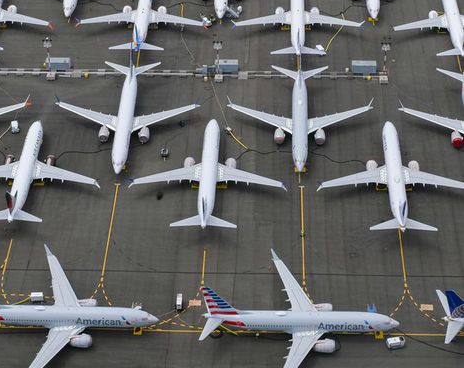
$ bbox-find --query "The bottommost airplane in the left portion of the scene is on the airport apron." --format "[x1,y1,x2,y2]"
[0,242,159,368]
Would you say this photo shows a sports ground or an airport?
airport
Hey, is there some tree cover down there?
No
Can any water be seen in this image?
No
